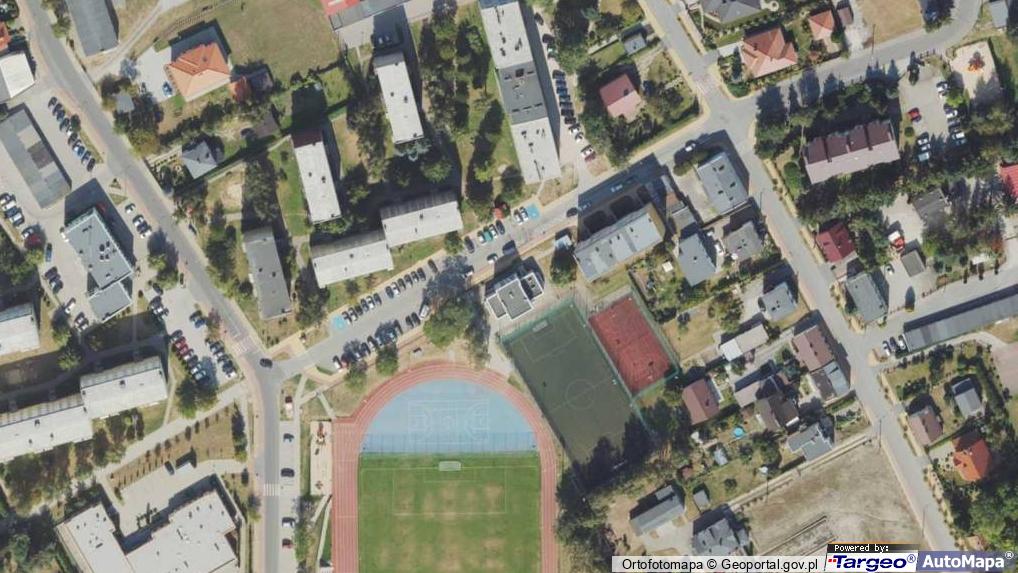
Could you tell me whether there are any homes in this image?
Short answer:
Yes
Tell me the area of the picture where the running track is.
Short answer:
bottom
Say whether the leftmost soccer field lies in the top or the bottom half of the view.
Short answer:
bottom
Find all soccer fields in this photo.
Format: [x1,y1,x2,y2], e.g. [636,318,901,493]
[505,305,644,476]
[358,453,541,573]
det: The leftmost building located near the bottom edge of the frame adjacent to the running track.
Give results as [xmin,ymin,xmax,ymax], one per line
[56,487,249,573]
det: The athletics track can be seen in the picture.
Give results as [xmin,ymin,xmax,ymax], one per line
[332,360,559,573]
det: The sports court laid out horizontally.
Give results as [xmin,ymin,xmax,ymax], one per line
[359,378,539,452]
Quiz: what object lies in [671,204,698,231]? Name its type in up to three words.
shed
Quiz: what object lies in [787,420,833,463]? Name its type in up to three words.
house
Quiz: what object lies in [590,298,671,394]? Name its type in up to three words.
sports court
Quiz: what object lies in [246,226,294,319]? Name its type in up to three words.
building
